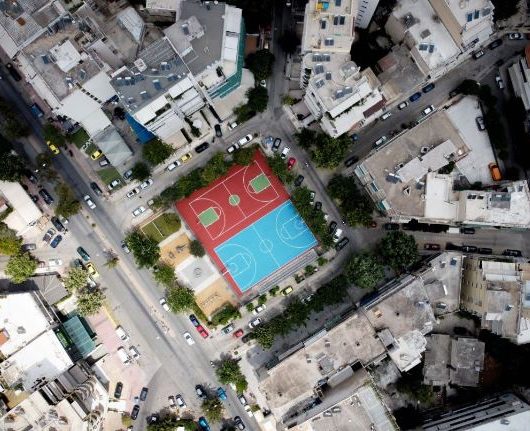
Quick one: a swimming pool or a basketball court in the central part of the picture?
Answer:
basketball court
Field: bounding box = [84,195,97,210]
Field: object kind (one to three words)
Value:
vehicle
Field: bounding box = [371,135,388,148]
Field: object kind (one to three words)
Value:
vehicle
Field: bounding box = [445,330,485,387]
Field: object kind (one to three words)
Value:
house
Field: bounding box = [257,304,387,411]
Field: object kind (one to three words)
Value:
building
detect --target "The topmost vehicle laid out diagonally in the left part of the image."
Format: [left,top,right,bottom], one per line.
[7,66,20,81]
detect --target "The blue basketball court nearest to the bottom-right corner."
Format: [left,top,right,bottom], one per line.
[214,200,320,292]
